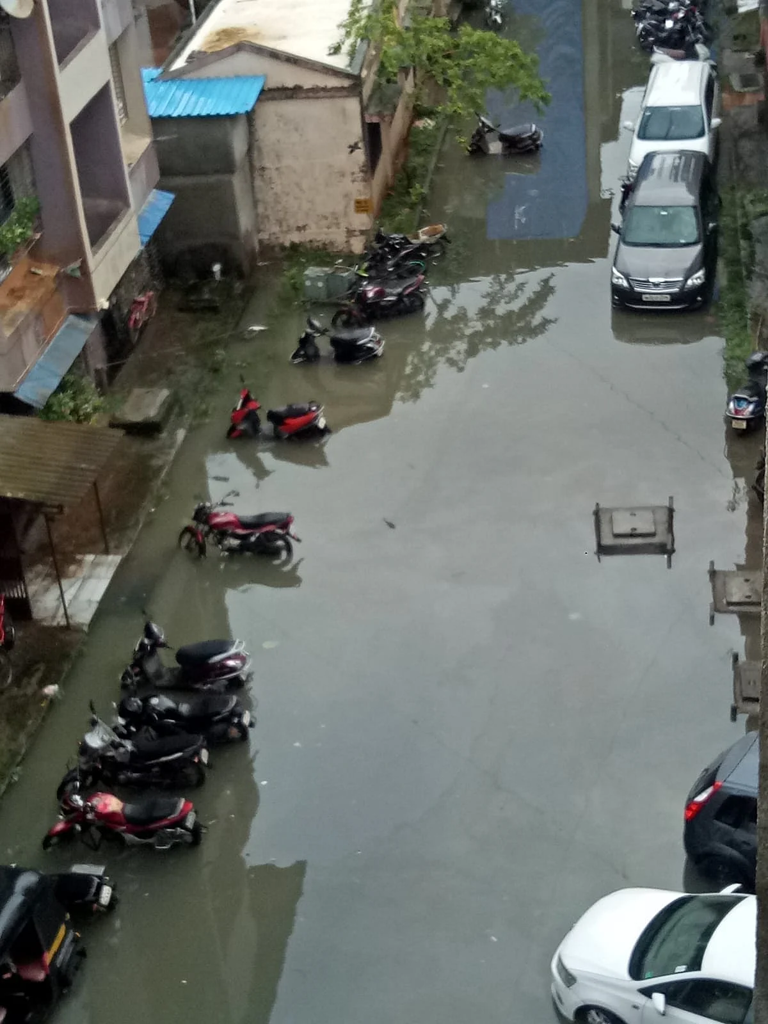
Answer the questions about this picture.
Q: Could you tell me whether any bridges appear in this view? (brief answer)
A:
No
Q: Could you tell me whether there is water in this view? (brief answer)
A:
Yes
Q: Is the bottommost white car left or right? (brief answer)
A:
right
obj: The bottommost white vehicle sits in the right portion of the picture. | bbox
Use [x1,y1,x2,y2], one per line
[548,885,755,1024]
